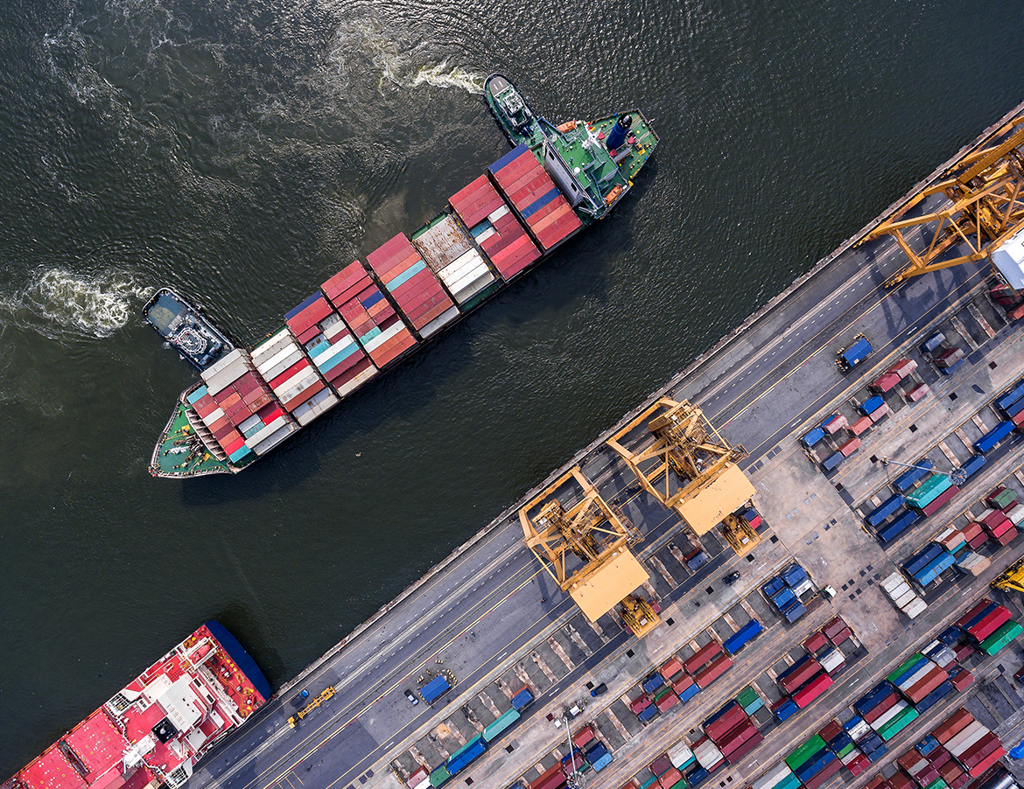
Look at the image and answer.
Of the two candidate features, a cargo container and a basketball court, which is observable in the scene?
cargo container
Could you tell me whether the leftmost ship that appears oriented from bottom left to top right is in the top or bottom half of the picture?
bottom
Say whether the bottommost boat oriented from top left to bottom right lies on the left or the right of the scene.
left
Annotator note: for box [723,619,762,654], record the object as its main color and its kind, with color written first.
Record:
blue shipping container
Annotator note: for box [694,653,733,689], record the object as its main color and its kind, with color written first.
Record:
red shipping container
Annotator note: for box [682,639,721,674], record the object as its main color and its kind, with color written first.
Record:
red shipping container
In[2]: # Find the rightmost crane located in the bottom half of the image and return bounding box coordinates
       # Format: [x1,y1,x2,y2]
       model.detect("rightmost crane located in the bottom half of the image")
[989,558,1024,594]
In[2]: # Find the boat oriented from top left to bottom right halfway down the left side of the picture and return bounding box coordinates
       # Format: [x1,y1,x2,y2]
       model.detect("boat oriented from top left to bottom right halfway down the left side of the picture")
[147,289,233,372]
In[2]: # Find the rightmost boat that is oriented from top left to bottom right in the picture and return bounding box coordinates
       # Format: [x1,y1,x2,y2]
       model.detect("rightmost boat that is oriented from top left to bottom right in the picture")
[483,69,545,152]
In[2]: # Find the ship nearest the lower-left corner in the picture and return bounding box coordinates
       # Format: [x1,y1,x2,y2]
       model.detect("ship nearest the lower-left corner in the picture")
[0,620,271,789]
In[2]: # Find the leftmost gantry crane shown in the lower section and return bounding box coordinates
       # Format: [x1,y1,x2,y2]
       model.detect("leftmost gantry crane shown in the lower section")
[510,461,660,638]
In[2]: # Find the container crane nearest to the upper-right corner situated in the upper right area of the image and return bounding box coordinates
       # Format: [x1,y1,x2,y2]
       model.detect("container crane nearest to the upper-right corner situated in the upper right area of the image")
[939,111,1024,208]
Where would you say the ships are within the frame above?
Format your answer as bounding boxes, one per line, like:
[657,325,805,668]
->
[146,108,660,480]
[0,620,271,789]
